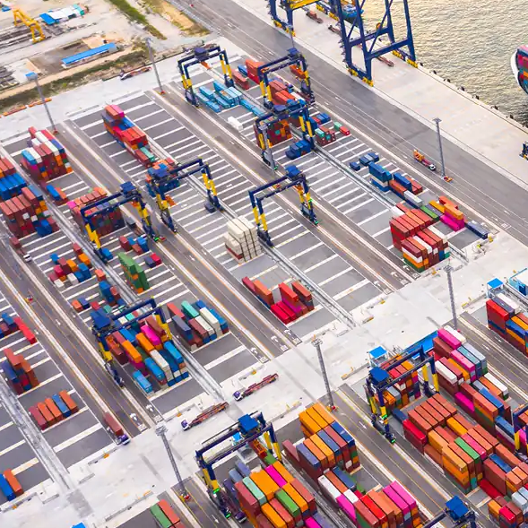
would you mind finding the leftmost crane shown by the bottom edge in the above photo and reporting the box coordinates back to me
[202,417,287,519]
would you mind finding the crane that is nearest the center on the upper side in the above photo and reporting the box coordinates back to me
[249,168,315,246]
